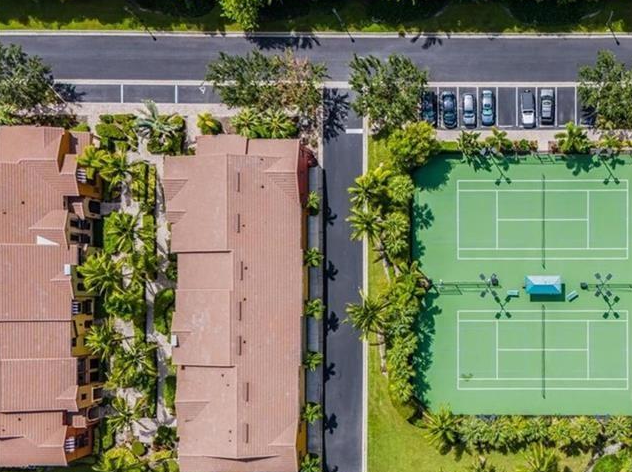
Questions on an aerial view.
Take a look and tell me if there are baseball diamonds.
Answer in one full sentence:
No, the scene contains no baseball diamond.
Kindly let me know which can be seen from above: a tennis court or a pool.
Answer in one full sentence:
The image shows a tennis court.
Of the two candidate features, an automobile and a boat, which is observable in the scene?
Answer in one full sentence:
Looking from above, you can make out an automobile.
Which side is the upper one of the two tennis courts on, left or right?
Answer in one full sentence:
The upper one of the two tennis courts is on the right side of the image.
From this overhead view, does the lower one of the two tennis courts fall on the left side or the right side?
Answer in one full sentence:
The lower one of the two tennis courts is on the right side of the image.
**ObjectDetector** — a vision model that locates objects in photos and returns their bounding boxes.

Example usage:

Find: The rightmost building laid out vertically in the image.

[162,133,323,472]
